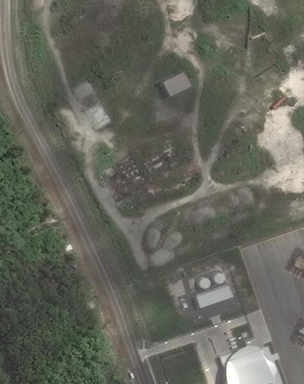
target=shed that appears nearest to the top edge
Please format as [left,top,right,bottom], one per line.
[163,71,189,96]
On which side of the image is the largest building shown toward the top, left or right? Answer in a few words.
left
